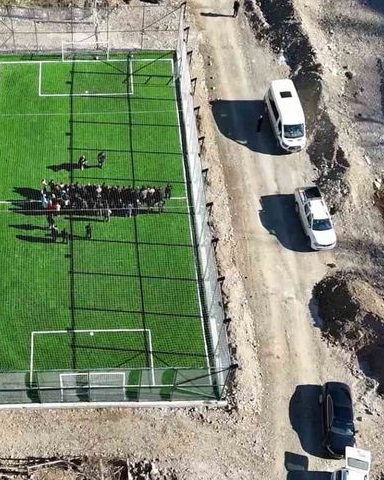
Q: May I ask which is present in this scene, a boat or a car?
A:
car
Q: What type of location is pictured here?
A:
sports ground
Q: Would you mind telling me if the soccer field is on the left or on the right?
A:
left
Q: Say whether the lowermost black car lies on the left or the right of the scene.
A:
right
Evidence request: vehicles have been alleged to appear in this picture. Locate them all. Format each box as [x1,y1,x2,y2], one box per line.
[335,452,371,480]
[266,81,308,151]
[294,186,337,252]
[318,382,360,461]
